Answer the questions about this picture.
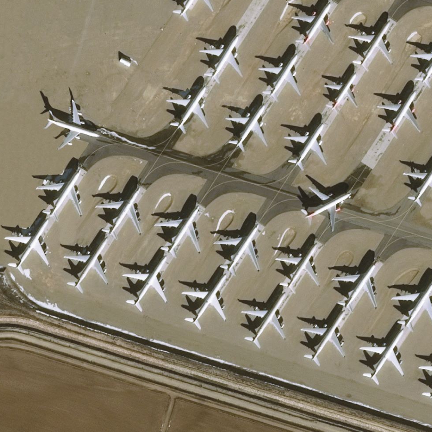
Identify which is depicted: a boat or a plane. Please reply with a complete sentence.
Of the two, only a plane appears.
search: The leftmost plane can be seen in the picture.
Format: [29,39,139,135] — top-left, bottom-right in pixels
[7,218,50,273]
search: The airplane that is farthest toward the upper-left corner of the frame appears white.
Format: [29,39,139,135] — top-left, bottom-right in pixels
[44,100,100,150]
